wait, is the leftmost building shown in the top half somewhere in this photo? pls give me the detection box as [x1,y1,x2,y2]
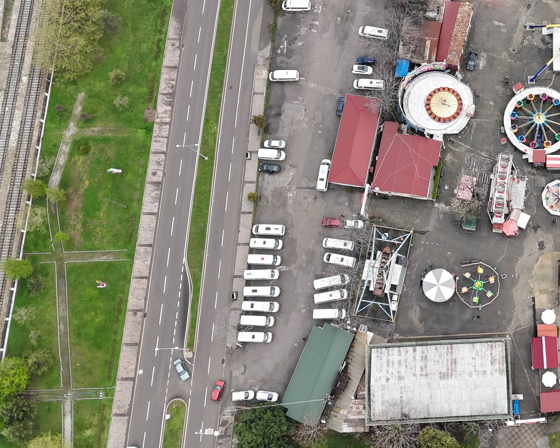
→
[329,93,382,188]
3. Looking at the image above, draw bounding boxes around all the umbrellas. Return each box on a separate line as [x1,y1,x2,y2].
[502,219,519,235]
[542,371,557,387]
[541,309,557,324]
